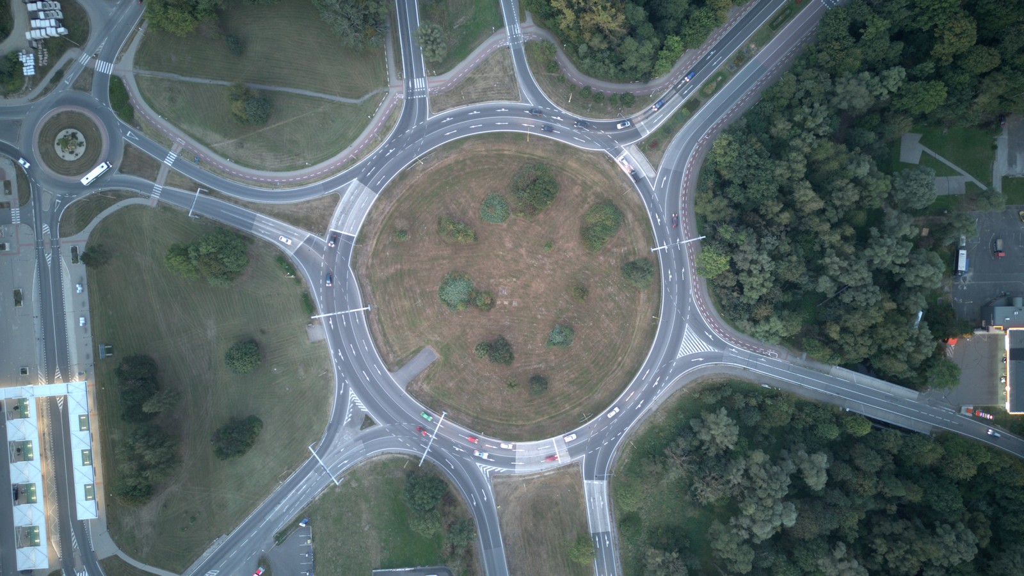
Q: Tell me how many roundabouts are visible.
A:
two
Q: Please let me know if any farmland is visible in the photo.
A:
No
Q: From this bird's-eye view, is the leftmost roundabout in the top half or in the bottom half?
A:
top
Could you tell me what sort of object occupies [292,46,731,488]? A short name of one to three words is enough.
roundabout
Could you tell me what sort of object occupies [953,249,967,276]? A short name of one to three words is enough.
vehicle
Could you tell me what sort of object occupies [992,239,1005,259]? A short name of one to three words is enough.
vehicle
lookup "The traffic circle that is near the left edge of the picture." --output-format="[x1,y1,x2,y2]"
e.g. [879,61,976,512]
[17,88,123,201]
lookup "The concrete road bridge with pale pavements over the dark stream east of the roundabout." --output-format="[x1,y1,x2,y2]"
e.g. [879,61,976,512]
[830,357,937,437]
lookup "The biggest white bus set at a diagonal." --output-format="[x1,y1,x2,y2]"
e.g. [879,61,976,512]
[79,159,115,188]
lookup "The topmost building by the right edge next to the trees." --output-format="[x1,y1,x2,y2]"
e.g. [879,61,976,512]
[974,294,1024,333]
